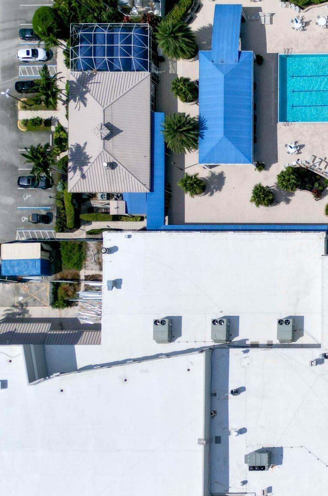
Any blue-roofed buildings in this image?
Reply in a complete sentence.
Yes, there's a blue-roofed building down there.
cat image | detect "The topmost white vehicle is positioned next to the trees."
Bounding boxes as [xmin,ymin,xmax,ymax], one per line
[13,45,46,62]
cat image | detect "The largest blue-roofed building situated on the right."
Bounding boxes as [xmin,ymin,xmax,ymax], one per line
[199,50,259,168]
